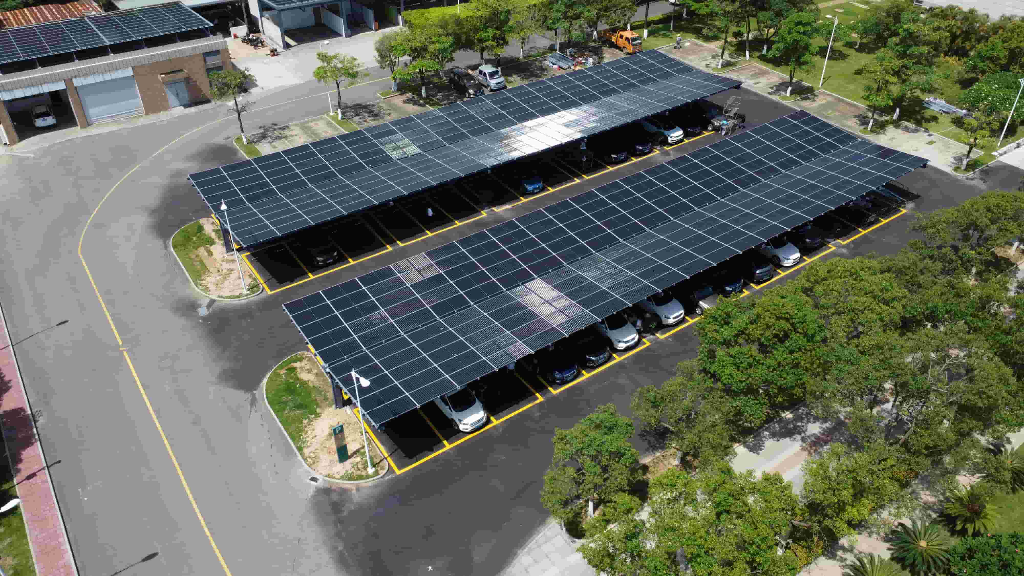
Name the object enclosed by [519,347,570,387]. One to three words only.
car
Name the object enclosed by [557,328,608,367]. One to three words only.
car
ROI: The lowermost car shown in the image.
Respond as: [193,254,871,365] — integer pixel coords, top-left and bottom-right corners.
[431,387,484,434]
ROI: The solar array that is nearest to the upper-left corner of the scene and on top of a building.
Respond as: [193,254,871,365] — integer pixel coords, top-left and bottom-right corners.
[0,1,208,71]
